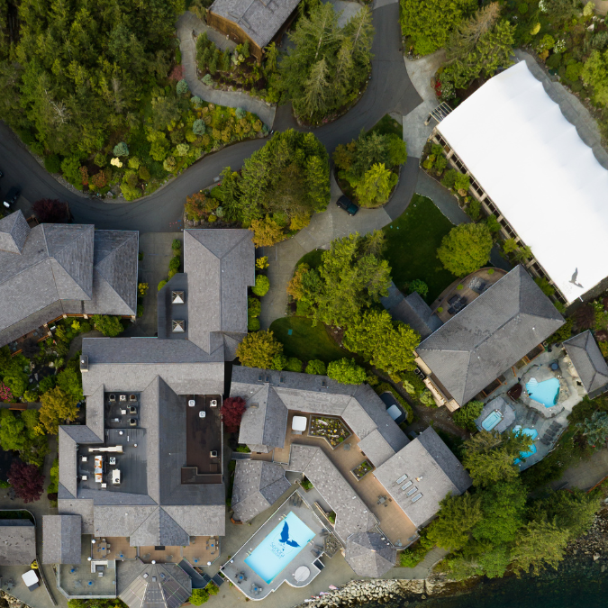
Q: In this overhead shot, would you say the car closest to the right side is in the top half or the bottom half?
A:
top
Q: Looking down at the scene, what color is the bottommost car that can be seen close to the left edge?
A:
black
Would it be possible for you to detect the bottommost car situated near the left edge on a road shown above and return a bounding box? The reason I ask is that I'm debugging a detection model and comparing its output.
[0,183,23,207]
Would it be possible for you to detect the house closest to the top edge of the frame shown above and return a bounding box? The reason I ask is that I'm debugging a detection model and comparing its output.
[208,0,303,54]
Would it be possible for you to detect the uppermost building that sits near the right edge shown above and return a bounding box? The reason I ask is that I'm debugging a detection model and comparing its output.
[428,61,608,311]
